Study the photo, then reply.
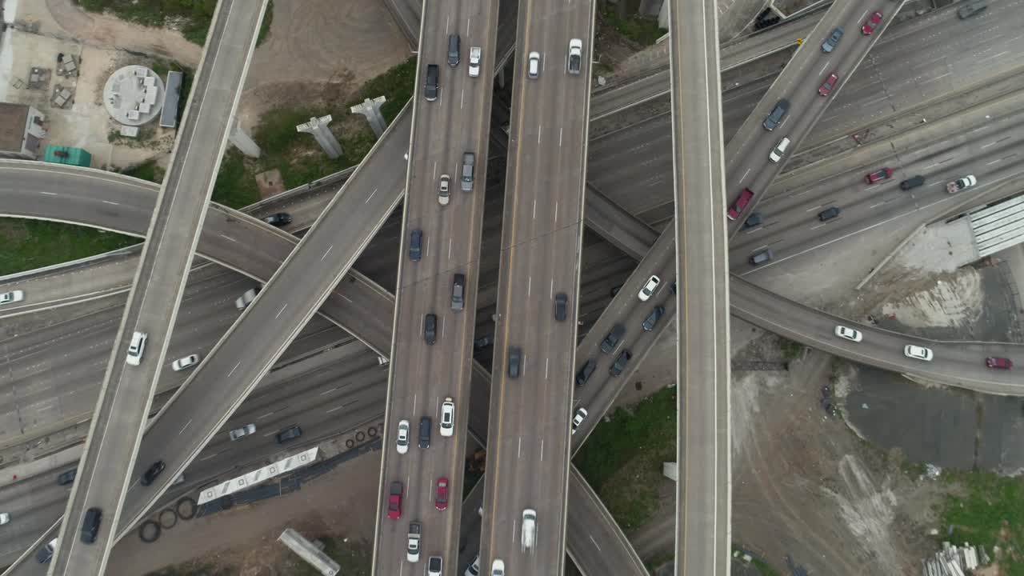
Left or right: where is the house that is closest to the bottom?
left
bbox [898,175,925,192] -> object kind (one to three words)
car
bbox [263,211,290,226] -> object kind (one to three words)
car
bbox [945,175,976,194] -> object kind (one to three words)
vehicle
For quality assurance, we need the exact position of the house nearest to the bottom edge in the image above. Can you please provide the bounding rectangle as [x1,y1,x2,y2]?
[0,103,55,161]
